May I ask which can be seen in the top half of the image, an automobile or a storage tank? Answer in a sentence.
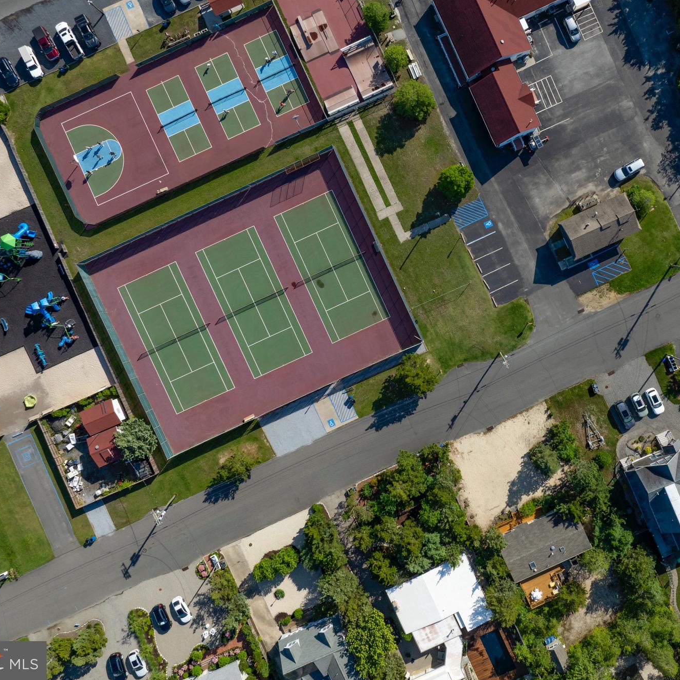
It is an automobile that can be seen in the top half of the image.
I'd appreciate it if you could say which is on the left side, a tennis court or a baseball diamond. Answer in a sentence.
Looking on the left side, you will find a tennis court.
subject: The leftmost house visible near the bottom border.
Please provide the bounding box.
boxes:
[195,653,254,680]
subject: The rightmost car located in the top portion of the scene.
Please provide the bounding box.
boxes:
[614,160,643,181]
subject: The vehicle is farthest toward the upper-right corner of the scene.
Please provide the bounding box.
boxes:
[560,14,582,44]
